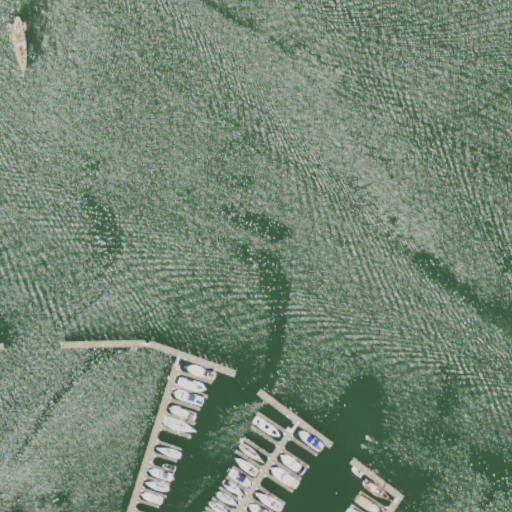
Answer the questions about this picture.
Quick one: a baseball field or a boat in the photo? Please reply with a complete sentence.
Visible in the photo is a boat.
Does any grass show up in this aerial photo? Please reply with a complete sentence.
No, no grass is visible.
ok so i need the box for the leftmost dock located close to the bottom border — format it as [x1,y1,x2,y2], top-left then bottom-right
[126,356,212,512]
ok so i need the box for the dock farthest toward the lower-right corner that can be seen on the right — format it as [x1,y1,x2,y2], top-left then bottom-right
[352,458,403,512]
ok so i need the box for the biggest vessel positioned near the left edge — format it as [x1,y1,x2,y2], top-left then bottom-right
[13,16,26,78]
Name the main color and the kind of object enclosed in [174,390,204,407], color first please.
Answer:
white boat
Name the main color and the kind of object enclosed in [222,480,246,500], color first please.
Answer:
white boat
